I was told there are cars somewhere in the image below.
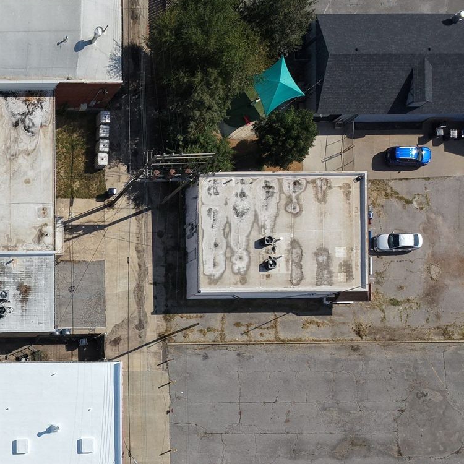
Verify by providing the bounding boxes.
[384,143,433,169]
[370,230,425,254]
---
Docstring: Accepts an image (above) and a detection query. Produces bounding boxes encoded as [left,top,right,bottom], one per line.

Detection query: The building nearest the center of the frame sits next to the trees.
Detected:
[184,173,370,306]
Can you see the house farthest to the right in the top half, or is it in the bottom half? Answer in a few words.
top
